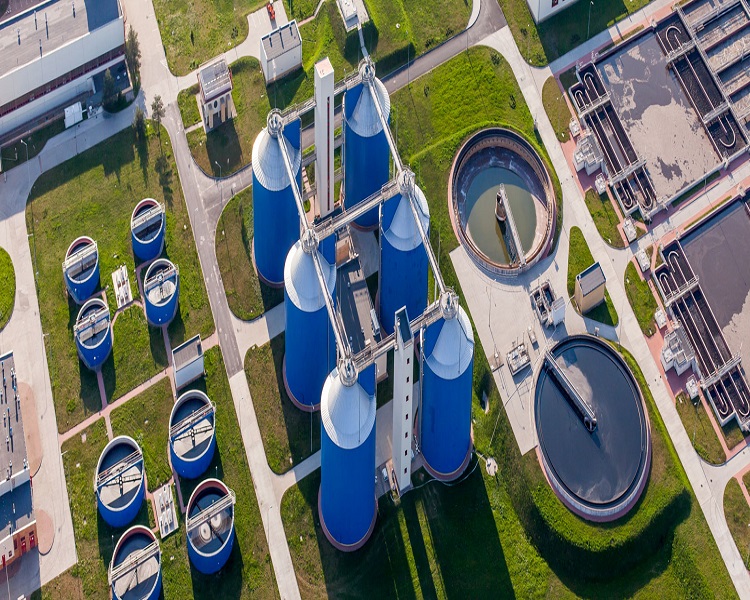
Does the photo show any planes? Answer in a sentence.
No, I can see no plane in this picture.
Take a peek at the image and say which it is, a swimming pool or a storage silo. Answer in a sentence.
It is a storage silo that can be seen here.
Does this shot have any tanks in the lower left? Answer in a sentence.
Yes, a tank appears in the lower left.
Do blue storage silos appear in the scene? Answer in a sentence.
Yes, a blue storage silo is visible in the scene.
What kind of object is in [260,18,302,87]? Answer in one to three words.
house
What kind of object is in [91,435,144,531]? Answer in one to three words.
storage tank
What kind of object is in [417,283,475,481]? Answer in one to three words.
silo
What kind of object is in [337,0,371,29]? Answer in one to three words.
building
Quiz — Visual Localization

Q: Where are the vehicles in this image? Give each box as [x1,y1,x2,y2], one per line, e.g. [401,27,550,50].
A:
[267,3,279,29]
